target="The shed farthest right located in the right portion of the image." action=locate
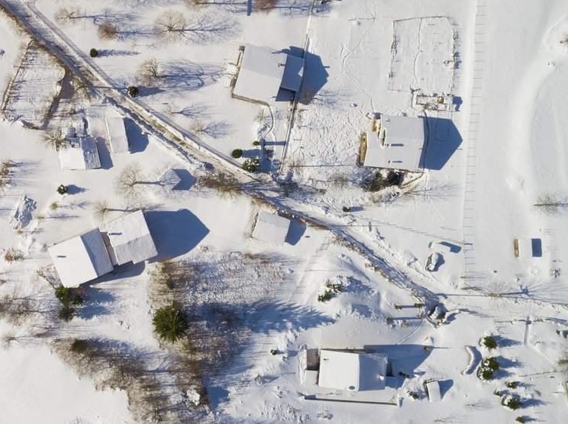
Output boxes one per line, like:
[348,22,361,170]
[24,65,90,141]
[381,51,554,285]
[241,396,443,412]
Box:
[516,239,534,257]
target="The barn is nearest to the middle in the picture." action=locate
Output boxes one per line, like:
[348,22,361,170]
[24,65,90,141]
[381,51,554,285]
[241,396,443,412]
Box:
[252,209,290,246]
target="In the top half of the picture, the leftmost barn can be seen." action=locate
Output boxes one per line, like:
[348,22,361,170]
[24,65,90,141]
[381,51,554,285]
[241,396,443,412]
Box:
[59,137,102,169]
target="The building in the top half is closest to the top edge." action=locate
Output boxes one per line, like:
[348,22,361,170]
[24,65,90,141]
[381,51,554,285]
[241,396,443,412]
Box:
[233,44,305,102]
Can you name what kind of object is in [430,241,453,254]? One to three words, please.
vehicle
